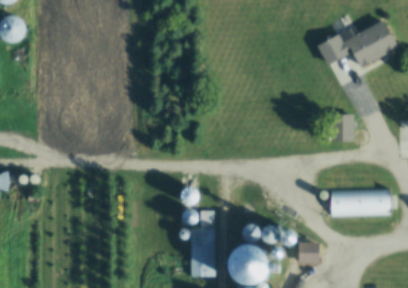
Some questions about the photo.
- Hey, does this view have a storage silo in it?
Yes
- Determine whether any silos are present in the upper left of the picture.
Yes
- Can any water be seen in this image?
No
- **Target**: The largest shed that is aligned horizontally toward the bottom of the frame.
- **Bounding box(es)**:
[332,190,390,216]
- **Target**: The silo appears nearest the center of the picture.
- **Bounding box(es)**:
[180,188,201,208]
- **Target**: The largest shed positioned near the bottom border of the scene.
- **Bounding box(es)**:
[191,228,216,277]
